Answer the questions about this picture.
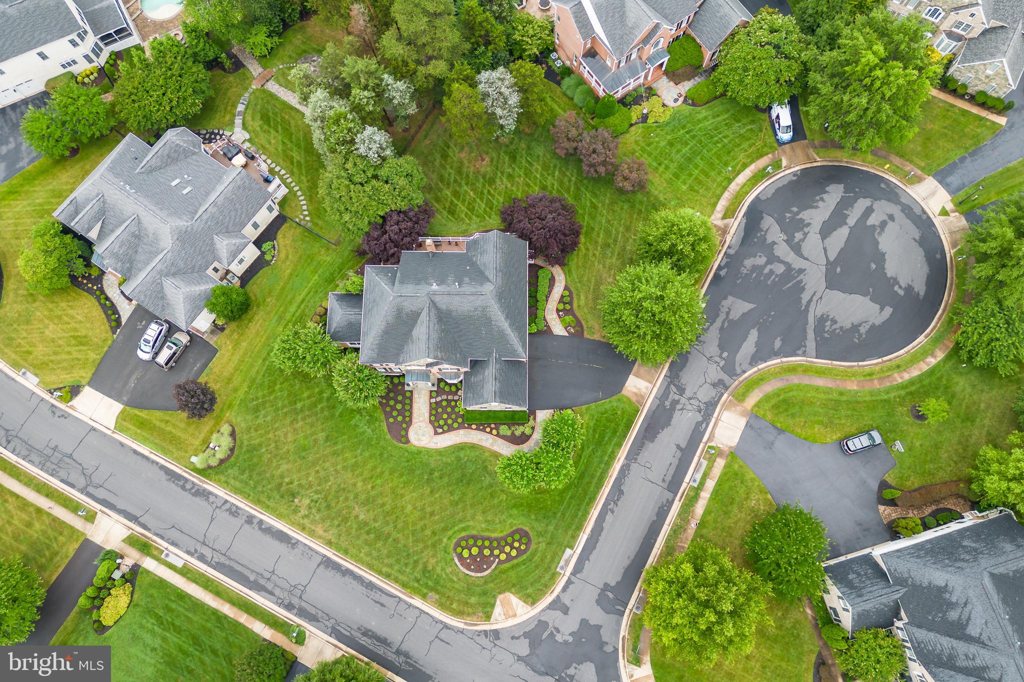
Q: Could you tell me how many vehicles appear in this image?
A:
4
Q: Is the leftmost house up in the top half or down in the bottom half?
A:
top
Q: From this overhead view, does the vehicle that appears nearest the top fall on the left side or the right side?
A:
right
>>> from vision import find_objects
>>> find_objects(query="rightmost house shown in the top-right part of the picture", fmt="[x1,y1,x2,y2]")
[873,0,1024,103]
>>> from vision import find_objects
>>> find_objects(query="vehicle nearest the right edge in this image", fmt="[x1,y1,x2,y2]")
[838,431,880,455]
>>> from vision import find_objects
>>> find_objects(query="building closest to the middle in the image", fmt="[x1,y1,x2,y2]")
[325,230,535,410]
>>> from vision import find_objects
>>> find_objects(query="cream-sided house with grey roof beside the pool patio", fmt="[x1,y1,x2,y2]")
[0,0,139,98]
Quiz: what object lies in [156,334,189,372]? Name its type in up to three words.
car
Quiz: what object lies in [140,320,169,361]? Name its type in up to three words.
car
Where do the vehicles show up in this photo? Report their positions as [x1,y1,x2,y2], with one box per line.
[838,431,880,455]
[156,334,189,372]
[769,101,791,141]
[140,320,169,361]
